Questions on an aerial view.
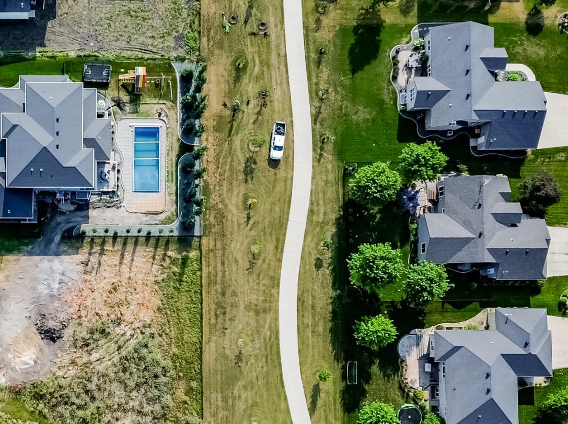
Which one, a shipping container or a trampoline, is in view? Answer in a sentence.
Of the two, only a trampoline appears.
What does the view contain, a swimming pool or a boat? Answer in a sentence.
It is a swimming pool that can be seen here.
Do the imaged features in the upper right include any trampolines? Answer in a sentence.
No, no trampoline can be made out in the upper right.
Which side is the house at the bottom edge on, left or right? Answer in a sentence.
The house at the bottom edge is on the right side of the image.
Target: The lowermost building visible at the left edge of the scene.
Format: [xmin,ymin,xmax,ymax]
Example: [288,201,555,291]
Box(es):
[0,75,113,218]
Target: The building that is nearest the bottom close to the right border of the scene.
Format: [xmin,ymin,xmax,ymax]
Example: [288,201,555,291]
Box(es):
[423,307,553,424]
